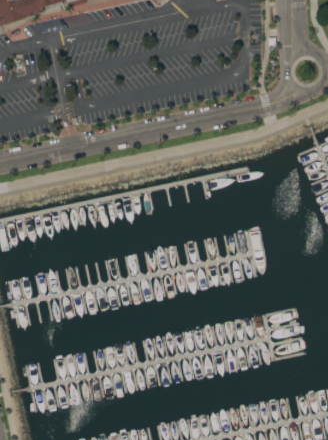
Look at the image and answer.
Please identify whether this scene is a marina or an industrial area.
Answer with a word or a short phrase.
marina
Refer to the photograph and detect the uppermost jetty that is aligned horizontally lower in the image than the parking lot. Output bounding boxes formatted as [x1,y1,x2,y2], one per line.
[0,166,249,242]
